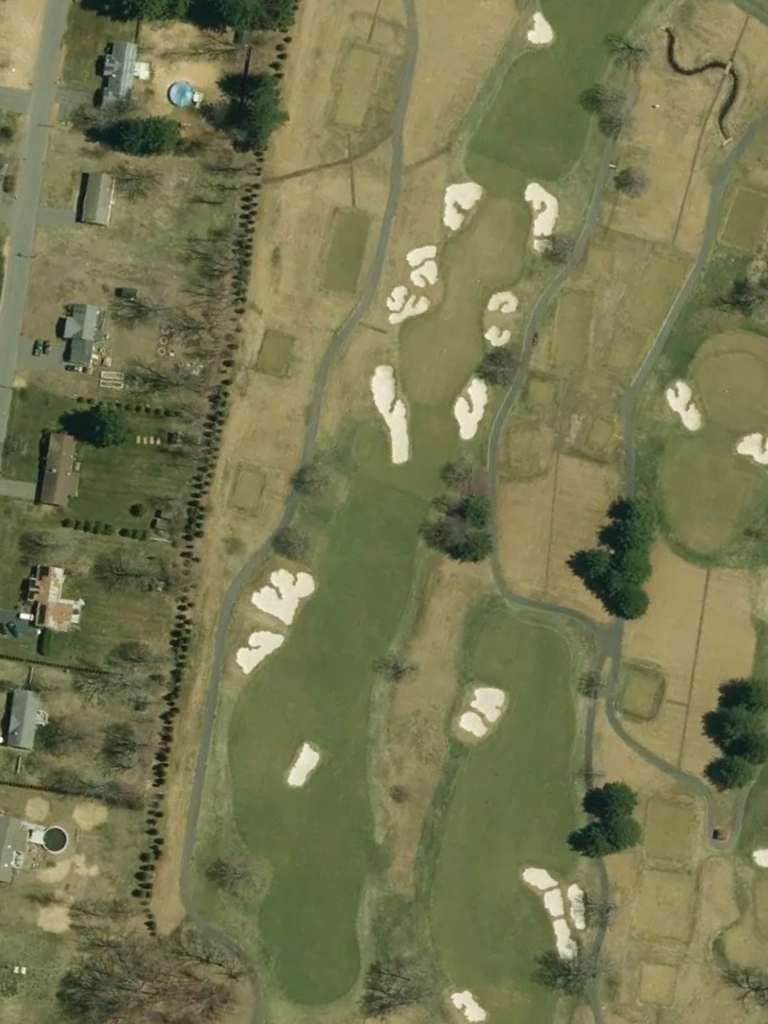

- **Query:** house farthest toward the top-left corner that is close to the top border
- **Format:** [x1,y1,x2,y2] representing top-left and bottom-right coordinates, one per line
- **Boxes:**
[95,39,150,106]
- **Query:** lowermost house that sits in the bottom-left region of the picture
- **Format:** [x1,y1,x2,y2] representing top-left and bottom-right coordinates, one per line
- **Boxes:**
[0,814,46,884]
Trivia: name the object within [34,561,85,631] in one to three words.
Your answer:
house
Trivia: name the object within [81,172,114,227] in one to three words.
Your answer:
house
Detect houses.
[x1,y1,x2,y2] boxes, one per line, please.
[60,302,110,366]
[0,814,46,884]
[34,561,85,631]
[38,430,78,507]
[81,172,114,227]
[95,39,150,106]
[6,690,45,752]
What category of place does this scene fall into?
golf course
